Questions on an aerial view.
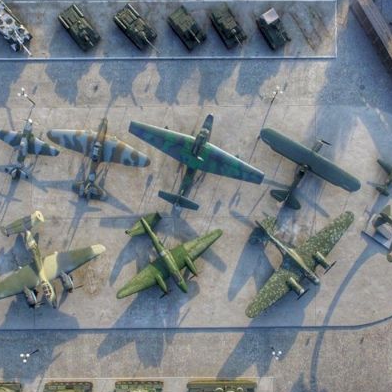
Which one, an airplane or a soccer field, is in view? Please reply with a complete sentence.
Looking from above, you can make out an airplane.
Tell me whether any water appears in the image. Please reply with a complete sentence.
No, no water is visible.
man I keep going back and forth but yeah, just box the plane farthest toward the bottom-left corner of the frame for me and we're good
[0,211,106,311]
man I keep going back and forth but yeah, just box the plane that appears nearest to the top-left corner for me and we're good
[0,118,59,179]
